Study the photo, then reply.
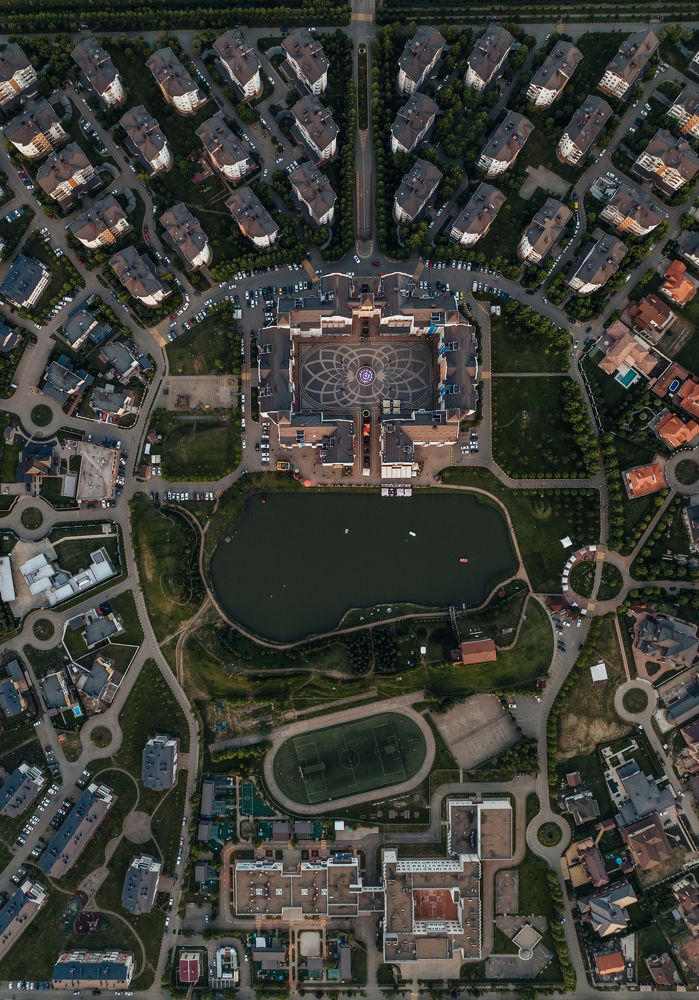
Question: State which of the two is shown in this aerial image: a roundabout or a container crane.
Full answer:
Visible in the photo is a roundabout.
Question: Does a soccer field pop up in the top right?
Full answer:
No, no soccer field can be made out in the top right.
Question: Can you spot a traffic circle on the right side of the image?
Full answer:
Yes, you'll find a traffic circle on the right side of the image.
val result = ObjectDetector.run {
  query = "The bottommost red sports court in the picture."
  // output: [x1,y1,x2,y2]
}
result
[414,889,460,923]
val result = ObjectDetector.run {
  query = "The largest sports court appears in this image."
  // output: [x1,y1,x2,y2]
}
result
[431,693,523,770]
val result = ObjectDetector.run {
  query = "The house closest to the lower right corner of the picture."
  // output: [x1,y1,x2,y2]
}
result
[645,948,679,989]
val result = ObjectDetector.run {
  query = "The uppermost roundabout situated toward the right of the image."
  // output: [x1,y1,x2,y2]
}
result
[666,449,699,494]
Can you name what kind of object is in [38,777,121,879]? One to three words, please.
building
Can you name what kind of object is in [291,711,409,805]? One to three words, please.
soccer field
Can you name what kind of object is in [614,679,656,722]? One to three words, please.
roundabout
